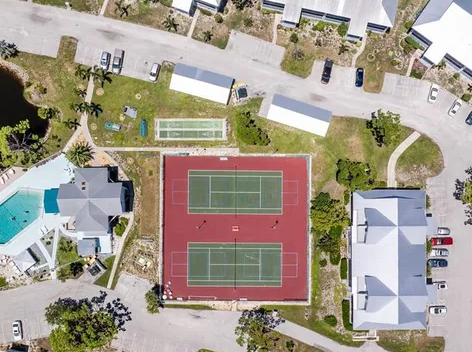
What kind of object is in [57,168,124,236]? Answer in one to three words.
building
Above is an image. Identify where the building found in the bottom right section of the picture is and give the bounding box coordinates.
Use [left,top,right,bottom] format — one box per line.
[350,191,438,329]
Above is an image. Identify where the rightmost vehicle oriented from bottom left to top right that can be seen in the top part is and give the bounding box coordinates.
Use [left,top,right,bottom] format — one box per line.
[448,98,463,117]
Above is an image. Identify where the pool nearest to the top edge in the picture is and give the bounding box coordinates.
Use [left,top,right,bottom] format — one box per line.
[45,187,59,213]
